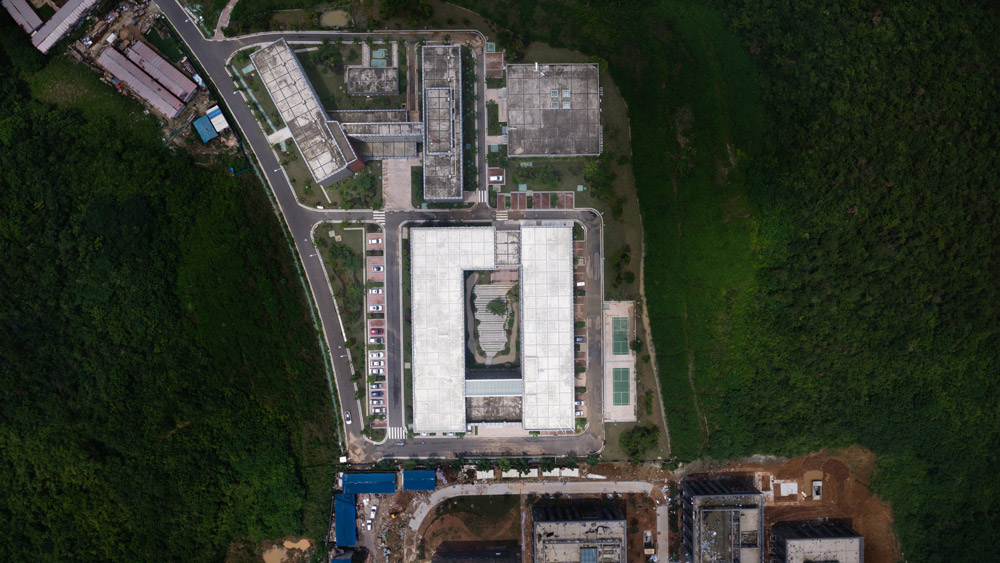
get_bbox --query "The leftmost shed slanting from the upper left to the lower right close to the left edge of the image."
[1,0,46,34]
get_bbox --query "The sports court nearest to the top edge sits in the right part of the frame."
[612,317,630,354]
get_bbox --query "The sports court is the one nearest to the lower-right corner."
[613,368,630,405]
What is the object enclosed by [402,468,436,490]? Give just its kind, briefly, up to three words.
shed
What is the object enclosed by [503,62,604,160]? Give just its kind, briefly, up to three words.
building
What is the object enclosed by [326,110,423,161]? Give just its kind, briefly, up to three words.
building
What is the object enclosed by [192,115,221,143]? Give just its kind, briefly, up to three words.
shed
